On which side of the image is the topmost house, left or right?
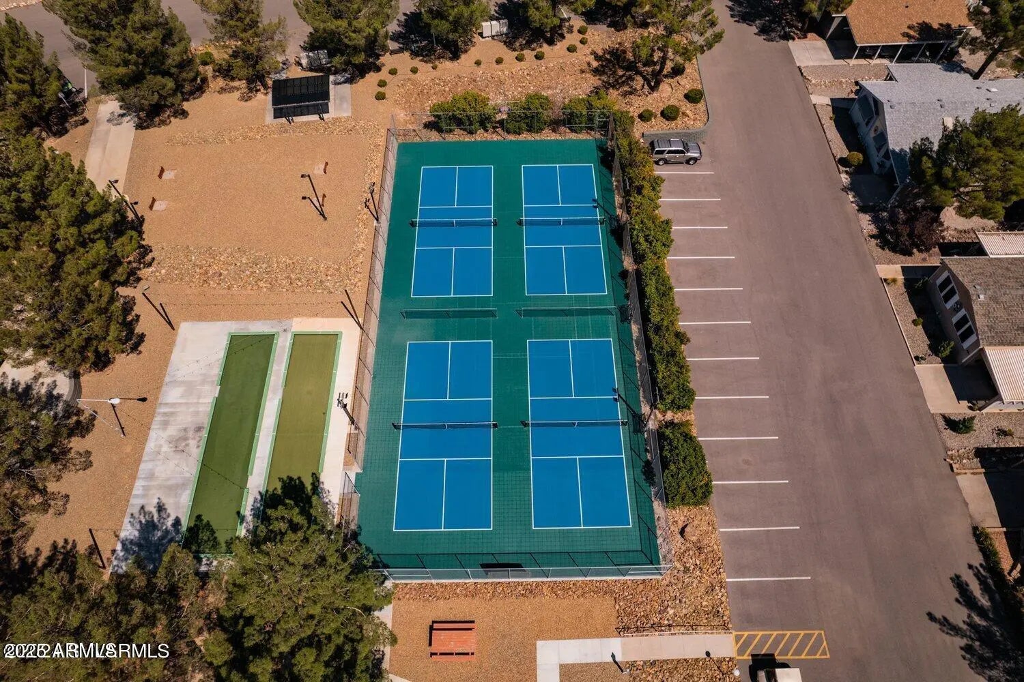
right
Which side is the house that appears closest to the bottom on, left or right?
right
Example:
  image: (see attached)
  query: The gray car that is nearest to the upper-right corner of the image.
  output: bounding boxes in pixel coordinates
[646,137,702,166]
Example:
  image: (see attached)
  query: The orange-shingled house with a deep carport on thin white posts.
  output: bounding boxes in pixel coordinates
[826,0,975,64]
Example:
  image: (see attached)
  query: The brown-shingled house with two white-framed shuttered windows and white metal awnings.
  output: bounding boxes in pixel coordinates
[928,231,1024,414]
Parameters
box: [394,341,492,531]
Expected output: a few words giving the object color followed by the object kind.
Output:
blue sports court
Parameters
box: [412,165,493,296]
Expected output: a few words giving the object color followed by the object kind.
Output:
blue sports court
